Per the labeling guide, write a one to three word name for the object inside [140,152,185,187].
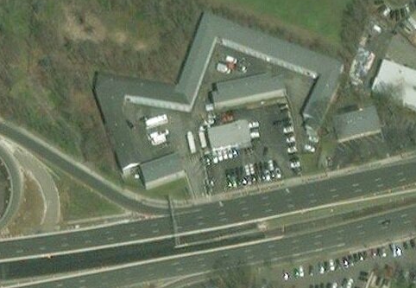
building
